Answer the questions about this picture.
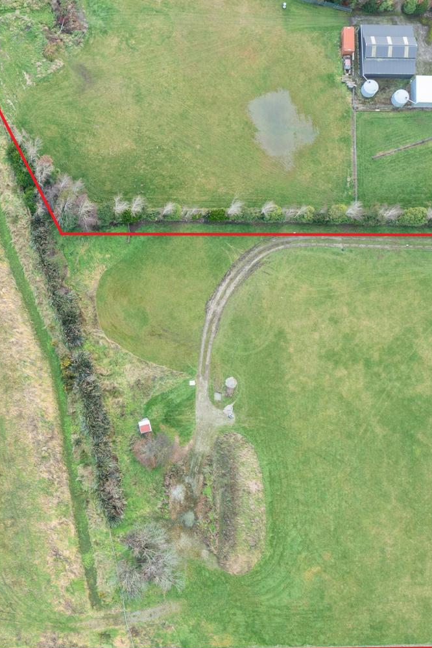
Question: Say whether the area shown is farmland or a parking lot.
farmland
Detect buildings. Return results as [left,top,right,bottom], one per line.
[406,74,432,106]
[139,421,152,435]
[360,23,419,83]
